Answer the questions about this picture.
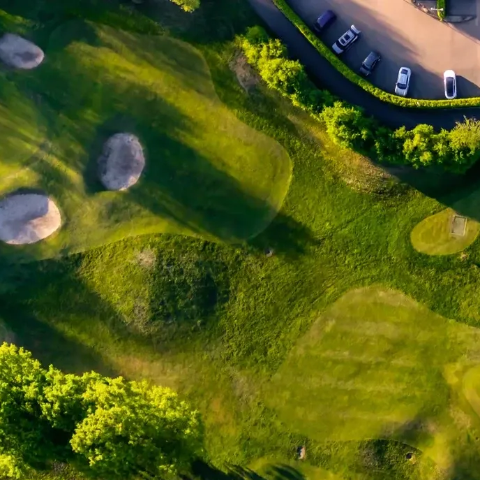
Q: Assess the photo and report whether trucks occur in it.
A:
No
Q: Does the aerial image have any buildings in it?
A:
No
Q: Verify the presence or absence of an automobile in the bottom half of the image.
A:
No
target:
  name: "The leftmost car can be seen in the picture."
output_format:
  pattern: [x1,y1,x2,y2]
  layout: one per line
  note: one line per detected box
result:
[313,8,337,35]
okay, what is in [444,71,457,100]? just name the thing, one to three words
vehicle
